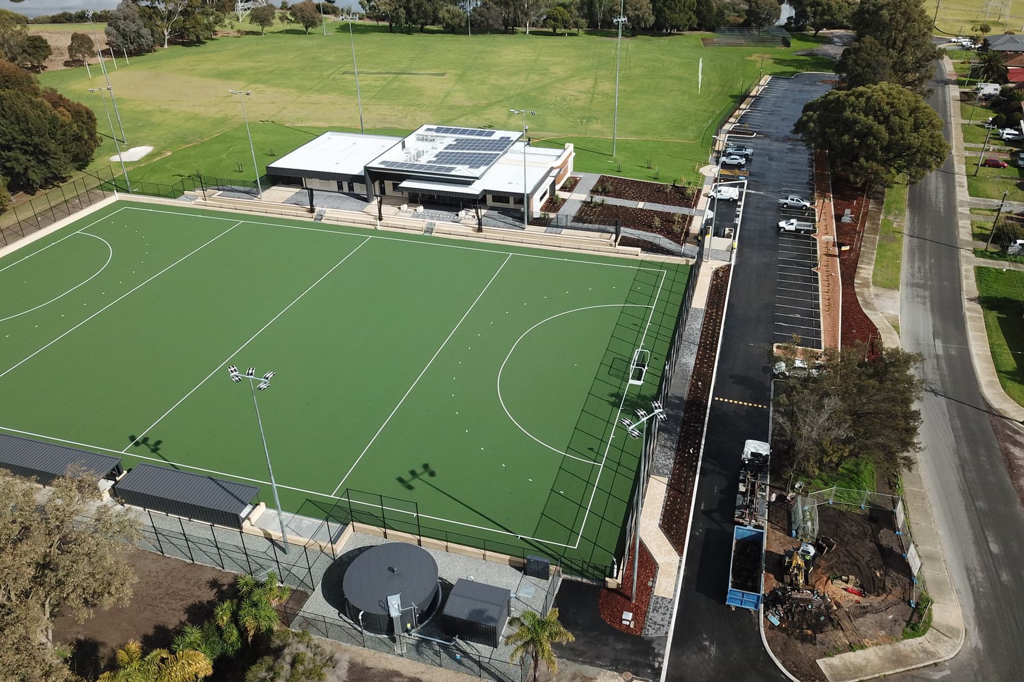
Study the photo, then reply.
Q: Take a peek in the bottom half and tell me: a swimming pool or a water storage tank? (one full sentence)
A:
The feature located in the bottom half is a water storage tank.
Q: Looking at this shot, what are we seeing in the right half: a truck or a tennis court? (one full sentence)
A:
It is a truck that can be seen in the right half.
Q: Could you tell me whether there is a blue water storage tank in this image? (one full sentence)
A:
No, no blue water storage tank is visible in the view.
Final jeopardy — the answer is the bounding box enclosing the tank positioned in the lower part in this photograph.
[338,540,456,653]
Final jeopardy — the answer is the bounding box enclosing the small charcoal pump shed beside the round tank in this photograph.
[442,578,517,651]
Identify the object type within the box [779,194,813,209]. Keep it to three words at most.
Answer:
vehicle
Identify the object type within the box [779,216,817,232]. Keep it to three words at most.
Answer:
vehicle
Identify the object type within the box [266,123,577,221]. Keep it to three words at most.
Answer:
building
